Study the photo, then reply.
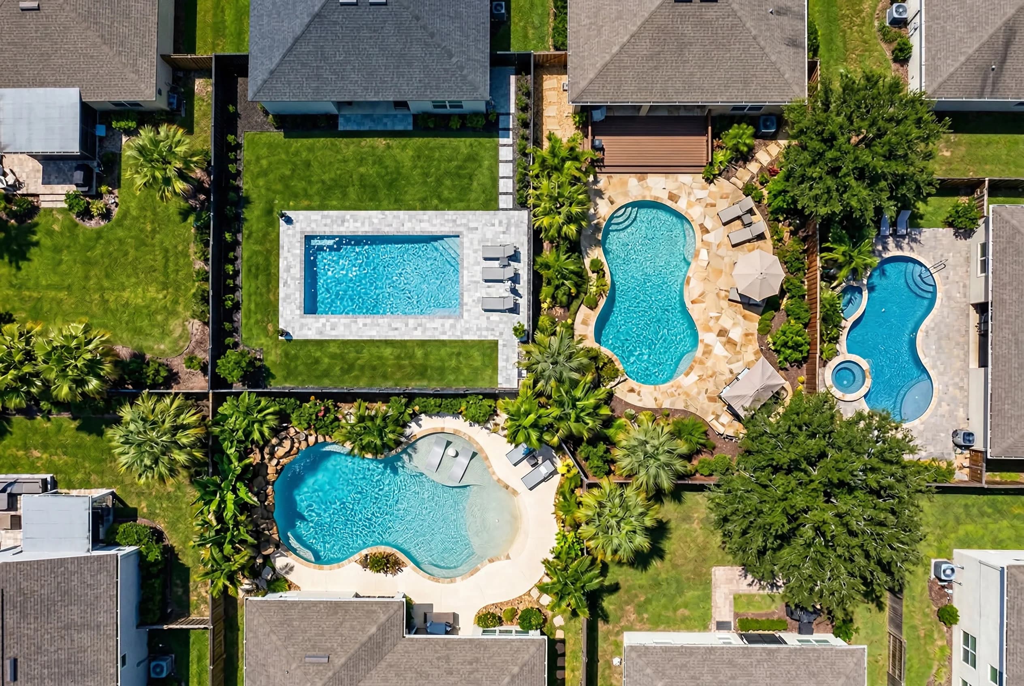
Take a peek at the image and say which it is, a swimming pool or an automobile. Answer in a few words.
swimming pool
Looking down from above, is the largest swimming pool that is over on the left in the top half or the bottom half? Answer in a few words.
bottom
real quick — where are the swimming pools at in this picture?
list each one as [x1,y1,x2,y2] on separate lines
[838,282,866,322]
[300,231,464,318]
[274,429,521,583]
[590,195,704,390]
[842,251,942,428]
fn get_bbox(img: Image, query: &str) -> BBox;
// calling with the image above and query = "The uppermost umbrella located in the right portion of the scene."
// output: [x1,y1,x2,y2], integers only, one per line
[729,248,785,303]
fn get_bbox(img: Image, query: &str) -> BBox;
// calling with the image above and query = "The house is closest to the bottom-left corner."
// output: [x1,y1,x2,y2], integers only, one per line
[0,547,139,686]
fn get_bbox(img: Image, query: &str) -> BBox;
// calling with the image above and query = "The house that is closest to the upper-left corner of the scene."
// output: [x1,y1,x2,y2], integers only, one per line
[0,0,173,110]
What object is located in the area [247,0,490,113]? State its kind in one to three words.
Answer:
house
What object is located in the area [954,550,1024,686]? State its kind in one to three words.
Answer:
house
